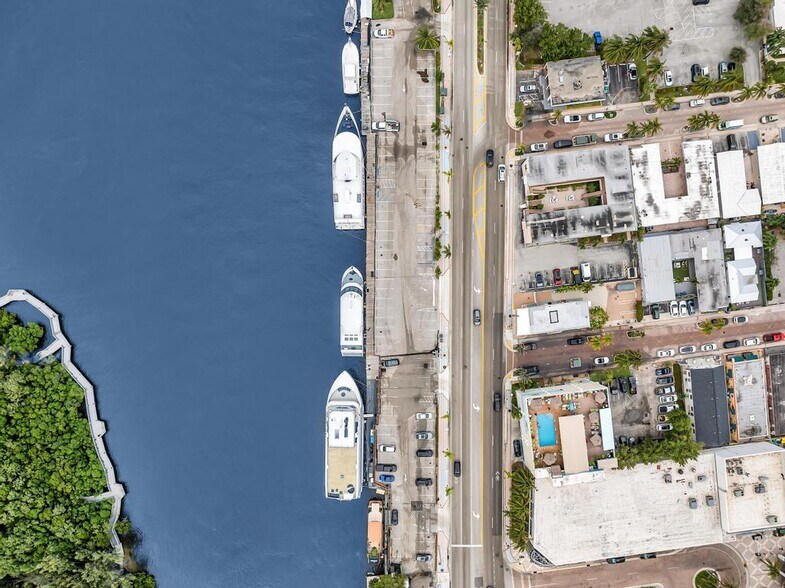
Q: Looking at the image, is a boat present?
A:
Yes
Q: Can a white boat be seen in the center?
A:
Yes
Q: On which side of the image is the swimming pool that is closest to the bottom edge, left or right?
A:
right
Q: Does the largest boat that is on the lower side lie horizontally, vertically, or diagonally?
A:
vertically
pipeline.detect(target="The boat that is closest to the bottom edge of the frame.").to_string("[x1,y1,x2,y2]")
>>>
[368,500,383,563]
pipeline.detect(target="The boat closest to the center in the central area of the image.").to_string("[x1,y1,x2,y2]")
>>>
[340,267,367,357]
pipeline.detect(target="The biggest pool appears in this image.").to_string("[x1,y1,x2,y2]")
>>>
[535,412,559,448]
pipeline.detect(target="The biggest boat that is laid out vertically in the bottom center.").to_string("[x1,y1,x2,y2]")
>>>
[324,370,370,501]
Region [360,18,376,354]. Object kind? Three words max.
pier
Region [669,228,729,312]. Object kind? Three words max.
building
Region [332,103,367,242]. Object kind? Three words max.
boat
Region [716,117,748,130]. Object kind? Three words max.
vehicle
